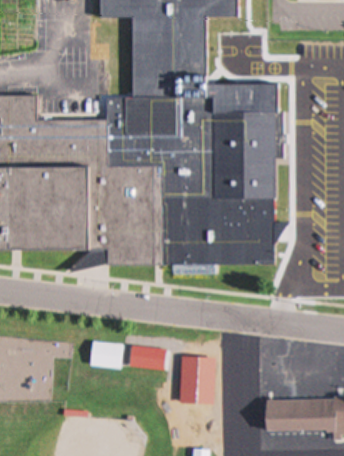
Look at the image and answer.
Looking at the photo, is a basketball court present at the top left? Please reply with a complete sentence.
No, at the top left there is no basketball court.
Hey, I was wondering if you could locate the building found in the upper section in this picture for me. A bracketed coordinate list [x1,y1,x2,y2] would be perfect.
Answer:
[0,0,288,276]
